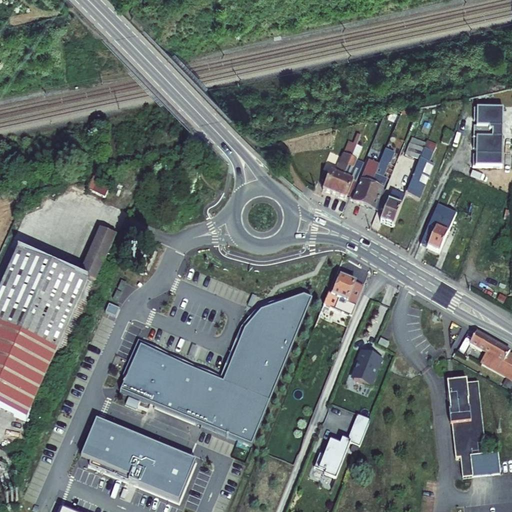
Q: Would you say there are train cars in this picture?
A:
No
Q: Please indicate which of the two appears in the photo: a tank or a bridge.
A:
bridge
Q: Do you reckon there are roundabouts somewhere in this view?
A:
Yes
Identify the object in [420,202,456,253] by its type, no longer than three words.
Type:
barn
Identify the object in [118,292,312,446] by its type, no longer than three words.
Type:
building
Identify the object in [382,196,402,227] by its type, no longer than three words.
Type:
house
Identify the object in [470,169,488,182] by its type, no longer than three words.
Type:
vehicle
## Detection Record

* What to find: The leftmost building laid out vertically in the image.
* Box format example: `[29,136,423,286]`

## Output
[0,241,88,422]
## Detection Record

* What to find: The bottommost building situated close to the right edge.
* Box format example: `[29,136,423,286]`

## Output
[471,452,501,480]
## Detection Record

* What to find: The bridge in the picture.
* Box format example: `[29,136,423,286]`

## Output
[104,10,225,132]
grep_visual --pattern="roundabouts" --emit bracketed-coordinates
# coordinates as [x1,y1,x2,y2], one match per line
[226,181,299,254]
